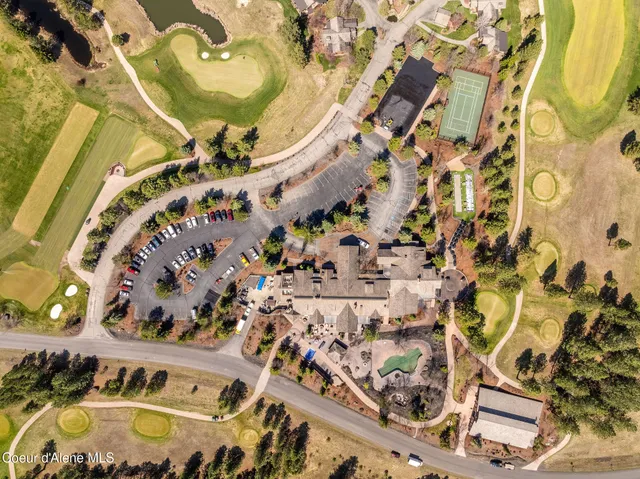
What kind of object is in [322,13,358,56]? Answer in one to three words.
house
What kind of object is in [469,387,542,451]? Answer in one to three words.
barn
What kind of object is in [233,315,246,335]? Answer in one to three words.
vehicle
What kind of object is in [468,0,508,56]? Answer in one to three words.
house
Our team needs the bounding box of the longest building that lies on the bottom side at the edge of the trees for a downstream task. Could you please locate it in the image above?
[274,246,442,334]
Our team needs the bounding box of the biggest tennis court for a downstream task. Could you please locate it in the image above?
[438,69,491,144]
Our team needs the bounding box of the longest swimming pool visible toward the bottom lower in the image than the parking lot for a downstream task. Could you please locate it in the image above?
[376,346,423,378]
